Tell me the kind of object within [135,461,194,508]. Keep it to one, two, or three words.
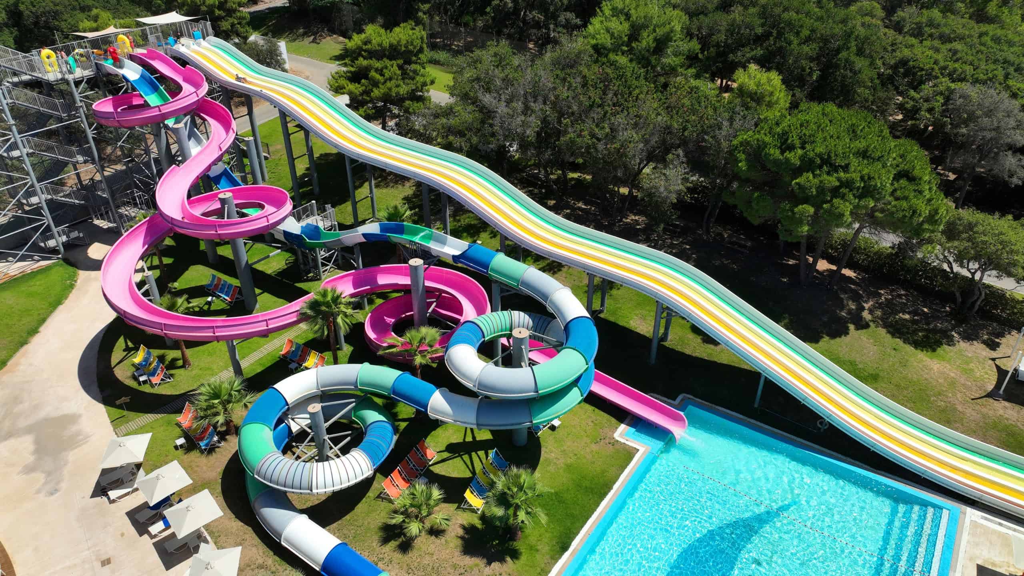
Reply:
umbrella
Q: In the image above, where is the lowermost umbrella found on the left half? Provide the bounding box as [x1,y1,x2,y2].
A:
[191,544,239,576]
